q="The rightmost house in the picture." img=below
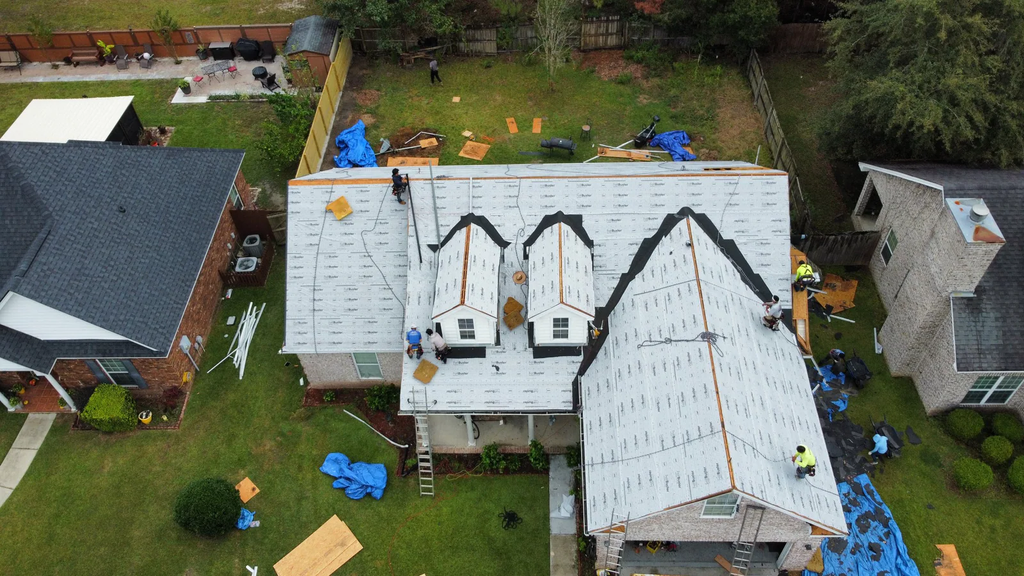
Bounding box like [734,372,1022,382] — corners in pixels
[854,161,1024,418]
